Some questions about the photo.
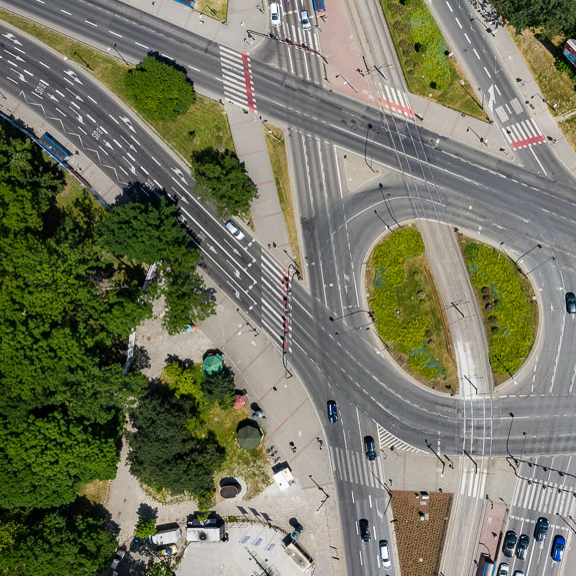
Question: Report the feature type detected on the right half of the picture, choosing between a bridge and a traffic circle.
traffic circle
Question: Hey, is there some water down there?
No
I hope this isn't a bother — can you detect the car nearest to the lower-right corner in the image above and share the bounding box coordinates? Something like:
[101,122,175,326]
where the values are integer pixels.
[552,533,566,561]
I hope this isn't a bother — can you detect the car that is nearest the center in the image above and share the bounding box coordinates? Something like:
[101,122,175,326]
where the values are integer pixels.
[225,221,246,241]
